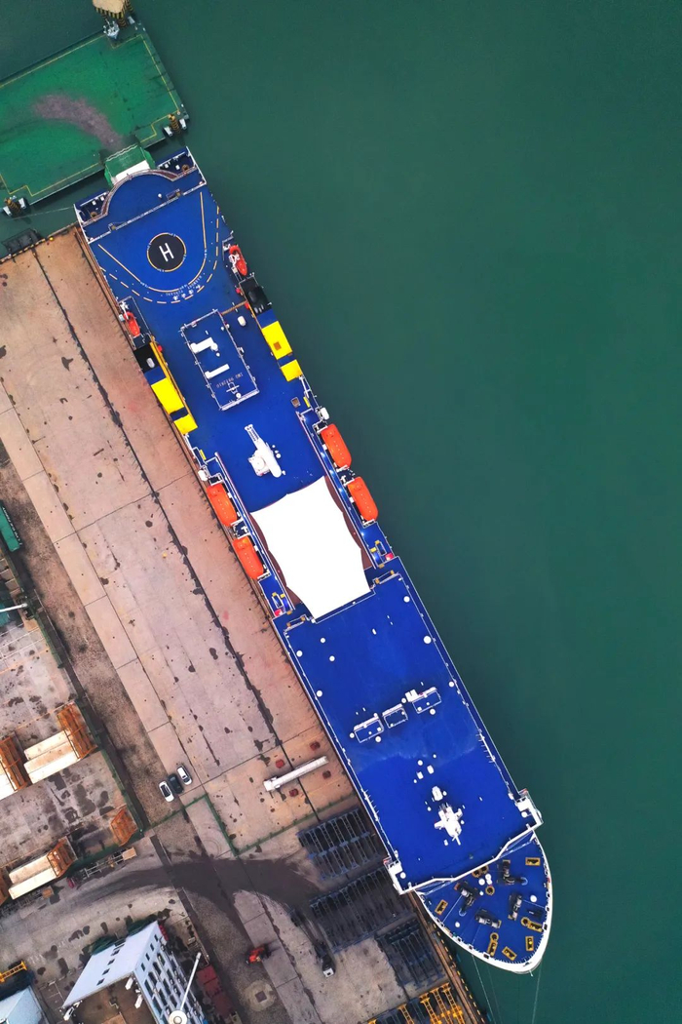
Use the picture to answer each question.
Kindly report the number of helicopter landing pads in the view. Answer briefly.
1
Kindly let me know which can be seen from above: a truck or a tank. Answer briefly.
truck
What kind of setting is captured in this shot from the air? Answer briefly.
port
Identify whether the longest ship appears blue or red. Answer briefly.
blue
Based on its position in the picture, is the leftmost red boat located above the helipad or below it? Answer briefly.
below it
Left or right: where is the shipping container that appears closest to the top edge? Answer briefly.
left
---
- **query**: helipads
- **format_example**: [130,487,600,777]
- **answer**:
[92,186,219,303]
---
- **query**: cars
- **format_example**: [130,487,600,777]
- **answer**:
[176,766,191,787]
[167,774,182,795]
[158,782,173,803]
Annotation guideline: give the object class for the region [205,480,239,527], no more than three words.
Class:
boat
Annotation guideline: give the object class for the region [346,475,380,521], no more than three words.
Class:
boat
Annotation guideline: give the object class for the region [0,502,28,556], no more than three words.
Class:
shipping container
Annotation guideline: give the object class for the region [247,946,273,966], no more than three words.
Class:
work vehicle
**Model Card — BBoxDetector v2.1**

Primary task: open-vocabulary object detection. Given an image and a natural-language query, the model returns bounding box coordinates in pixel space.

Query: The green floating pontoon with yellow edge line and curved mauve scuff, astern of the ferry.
[0,13,189,208]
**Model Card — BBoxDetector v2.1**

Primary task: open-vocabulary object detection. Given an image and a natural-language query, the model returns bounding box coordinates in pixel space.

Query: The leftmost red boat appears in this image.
[121,311,141,339]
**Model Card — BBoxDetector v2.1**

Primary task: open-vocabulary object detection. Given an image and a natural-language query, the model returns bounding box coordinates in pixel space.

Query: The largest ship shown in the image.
[71,144,554,976]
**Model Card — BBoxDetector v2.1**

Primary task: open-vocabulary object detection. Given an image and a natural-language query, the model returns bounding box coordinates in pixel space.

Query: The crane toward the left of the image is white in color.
[245,422,281,478]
